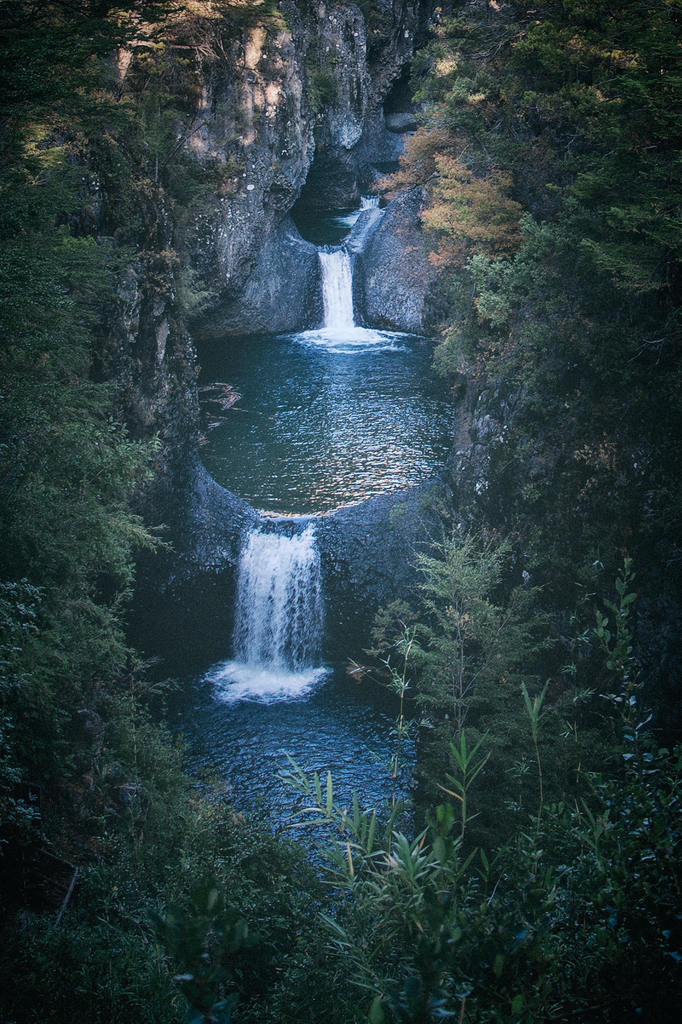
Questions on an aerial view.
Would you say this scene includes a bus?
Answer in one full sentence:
No, the picture doesn't show any bus.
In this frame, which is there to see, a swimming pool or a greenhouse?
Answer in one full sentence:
I can see a swimming pool in this picture.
